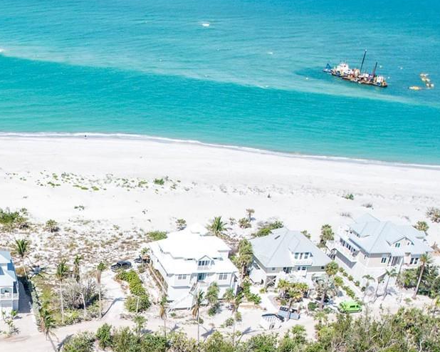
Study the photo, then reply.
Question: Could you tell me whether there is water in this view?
Yes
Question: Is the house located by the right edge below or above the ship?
below it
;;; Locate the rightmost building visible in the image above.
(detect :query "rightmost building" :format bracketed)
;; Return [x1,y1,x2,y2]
[329,213,438,297]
